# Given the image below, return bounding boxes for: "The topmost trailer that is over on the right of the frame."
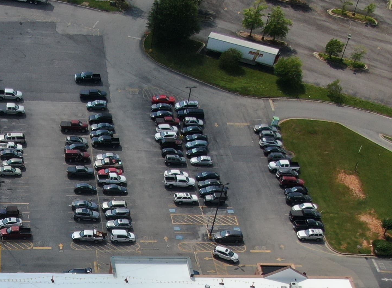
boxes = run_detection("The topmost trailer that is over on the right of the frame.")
[208,34,279,69]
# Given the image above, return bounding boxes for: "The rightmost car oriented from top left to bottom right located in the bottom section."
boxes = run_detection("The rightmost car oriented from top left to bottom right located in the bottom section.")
[212,245,240,266]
